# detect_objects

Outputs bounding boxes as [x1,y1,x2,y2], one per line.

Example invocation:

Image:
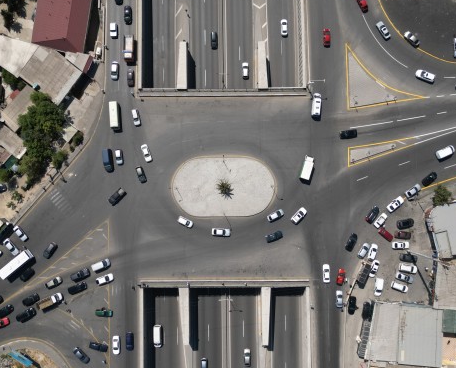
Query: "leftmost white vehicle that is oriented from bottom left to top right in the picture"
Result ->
[0,248,36,281]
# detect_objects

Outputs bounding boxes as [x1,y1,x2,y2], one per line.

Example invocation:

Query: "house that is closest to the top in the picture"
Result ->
[31,0,96,54]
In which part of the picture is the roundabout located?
center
